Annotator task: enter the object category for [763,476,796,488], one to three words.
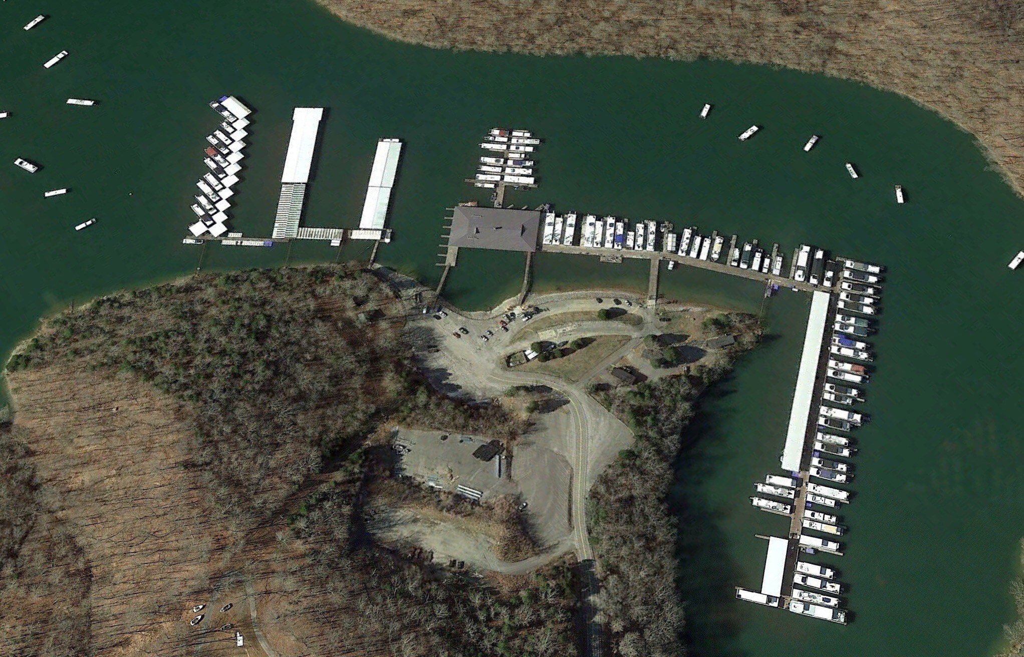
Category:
boat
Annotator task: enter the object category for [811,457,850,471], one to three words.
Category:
boat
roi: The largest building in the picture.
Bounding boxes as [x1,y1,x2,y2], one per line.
[448,206,541,253]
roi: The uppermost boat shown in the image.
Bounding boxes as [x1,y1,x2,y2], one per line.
[25,15,46,31]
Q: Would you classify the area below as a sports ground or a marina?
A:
marina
